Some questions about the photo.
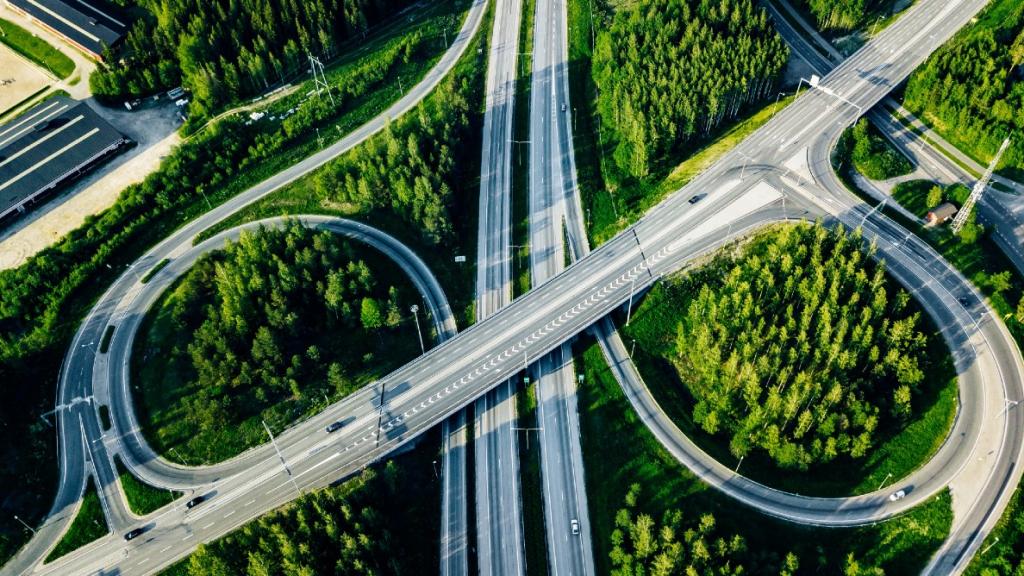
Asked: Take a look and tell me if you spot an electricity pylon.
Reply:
Yes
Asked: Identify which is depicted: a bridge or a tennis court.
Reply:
bridge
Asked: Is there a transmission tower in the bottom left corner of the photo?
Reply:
No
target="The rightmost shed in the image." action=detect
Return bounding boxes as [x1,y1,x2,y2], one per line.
[923,200,962,229]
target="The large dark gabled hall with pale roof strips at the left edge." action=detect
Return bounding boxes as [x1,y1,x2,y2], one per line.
[0,101,127,227]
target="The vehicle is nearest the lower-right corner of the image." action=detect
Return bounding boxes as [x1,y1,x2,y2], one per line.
[889,487,908,500]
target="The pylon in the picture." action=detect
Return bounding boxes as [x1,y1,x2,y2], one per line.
[308,52,334,104]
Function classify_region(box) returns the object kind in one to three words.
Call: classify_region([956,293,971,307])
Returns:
car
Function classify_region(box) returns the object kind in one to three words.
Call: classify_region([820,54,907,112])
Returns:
bridge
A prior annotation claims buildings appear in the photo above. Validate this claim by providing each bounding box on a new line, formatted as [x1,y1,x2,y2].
[0,101,127,227]
[0,0,152,65]
[923,200,962,229]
